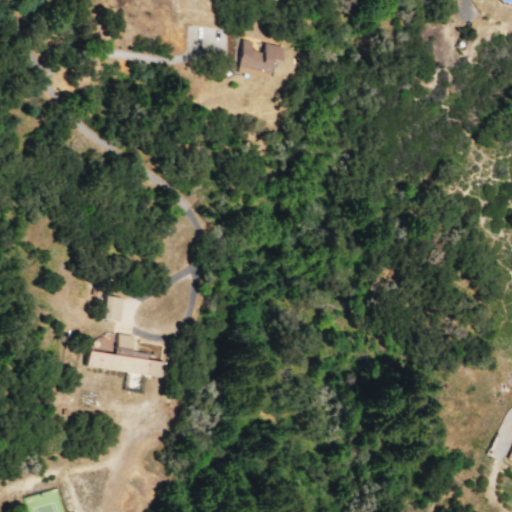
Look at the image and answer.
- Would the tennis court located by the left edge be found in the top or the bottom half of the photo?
bottom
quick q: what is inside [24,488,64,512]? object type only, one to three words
tennis court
